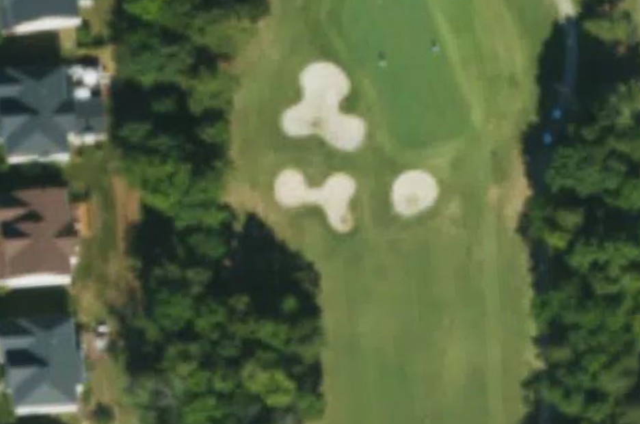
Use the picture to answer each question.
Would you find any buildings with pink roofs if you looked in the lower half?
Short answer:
No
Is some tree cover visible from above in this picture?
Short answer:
Yes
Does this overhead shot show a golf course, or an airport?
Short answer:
golf course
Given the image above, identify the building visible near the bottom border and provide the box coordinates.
[0,318,89,413]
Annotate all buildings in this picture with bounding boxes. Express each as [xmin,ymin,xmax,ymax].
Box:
[0,66,107,164]
[0,0,97,37]
[0,318,89,413]
[0,188,91,283]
